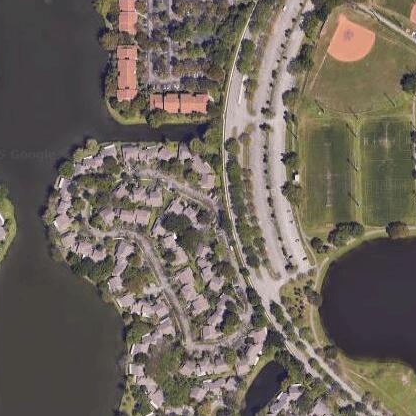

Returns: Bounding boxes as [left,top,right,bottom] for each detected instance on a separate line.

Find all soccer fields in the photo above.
[306,120,352,228]
[360,119,416,227]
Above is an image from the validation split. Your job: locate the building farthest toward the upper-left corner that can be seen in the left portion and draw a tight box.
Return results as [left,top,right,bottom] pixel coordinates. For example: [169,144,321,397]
[118,0,139,33]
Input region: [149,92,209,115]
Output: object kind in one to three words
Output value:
building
